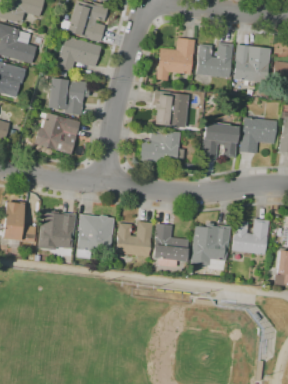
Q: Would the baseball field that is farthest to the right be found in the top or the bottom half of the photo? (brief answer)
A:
bottom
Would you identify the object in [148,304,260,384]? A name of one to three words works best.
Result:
baseball field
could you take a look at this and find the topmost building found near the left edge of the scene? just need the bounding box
[0,0,46,26]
